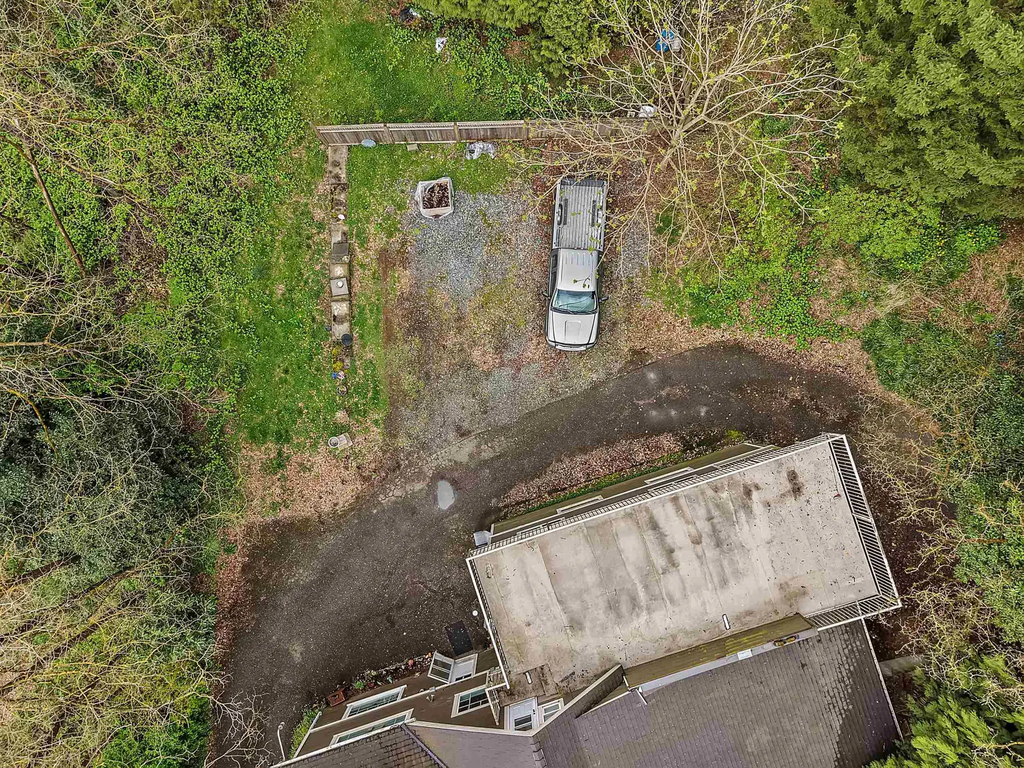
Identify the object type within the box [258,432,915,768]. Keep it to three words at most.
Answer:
house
